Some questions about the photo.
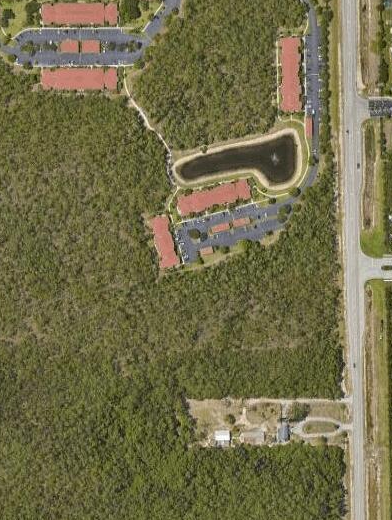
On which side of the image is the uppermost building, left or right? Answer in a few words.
left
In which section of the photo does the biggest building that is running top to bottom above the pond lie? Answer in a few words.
top right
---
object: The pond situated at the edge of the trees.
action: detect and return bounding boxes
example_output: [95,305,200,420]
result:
[180,135,297,186]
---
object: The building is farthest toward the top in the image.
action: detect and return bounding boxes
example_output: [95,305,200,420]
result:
[41,0,116,25]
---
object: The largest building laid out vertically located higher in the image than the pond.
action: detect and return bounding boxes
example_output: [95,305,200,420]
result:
[279,36,302,110]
